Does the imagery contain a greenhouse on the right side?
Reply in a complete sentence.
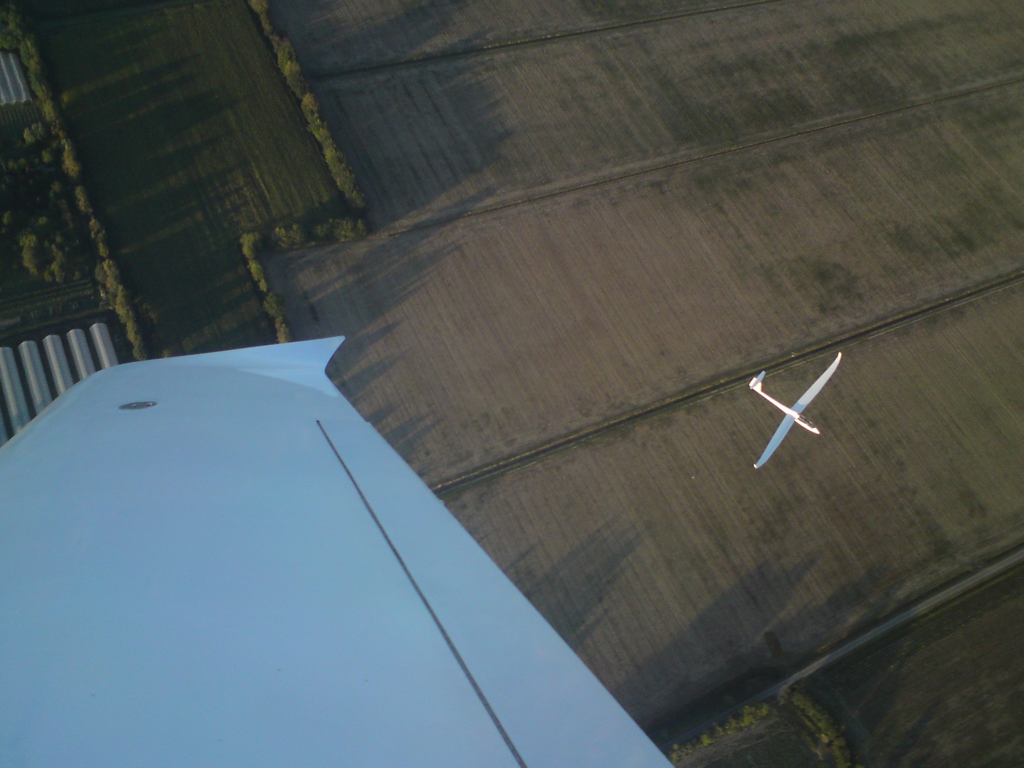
No, no greenhouse appears on the right side.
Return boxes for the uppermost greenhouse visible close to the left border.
[0,51,31,109]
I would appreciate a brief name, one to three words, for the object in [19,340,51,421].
greenhouse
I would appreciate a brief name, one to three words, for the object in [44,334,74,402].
greenhouse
